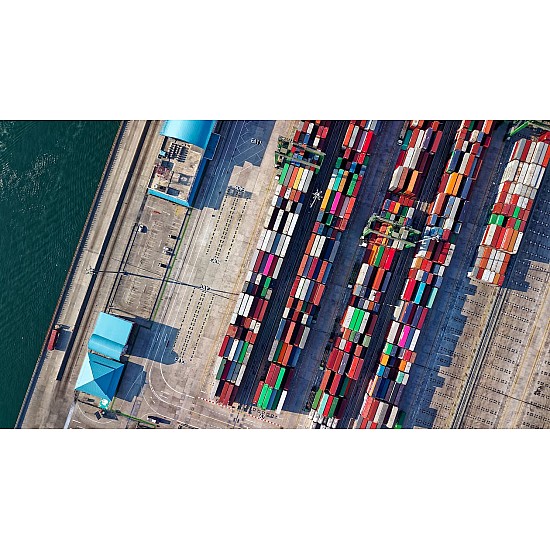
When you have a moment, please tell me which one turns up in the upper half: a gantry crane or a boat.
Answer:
gantry crane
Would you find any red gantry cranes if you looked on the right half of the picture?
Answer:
No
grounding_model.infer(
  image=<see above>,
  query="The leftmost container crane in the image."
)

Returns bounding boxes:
[272,134,329,182]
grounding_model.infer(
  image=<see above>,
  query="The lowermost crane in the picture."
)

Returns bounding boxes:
[359,212,422,254]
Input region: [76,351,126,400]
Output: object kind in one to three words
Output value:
building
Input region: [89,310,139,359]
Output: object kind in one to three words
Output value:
shed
